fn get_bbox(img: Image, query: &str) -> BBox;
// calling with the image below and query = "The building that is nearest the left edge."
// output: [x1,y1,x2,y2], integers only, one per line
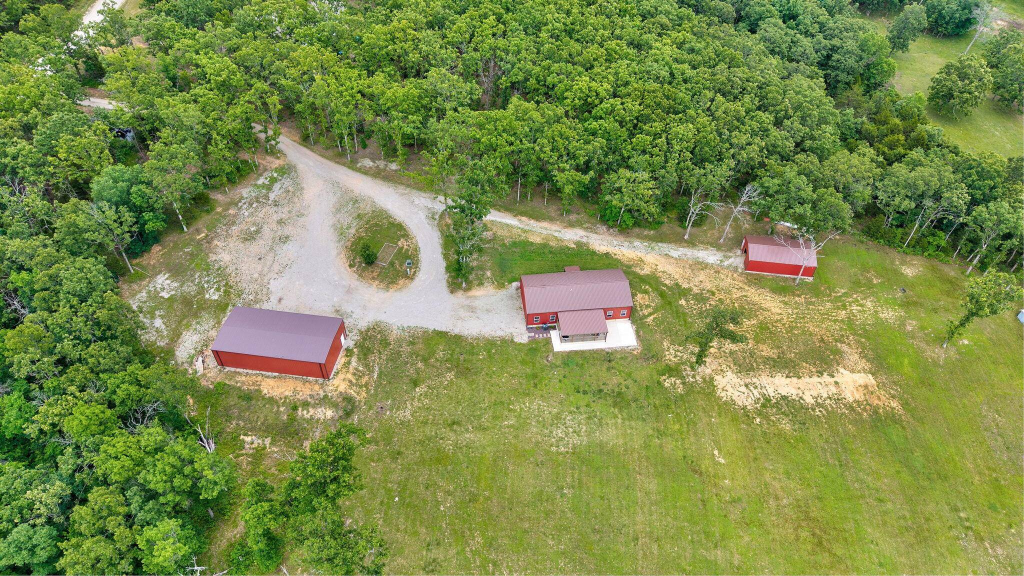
[210,307,348,379]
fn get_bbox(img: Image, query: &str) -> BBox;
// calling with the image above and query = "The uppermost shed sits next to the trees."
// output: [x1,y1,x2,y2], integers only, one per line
[743,236,818,278]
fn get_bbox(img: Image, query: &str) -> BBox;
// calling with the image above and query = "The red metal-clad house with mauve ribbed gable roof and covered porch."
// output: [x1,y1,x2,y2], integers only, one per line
[521,266,633,344]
